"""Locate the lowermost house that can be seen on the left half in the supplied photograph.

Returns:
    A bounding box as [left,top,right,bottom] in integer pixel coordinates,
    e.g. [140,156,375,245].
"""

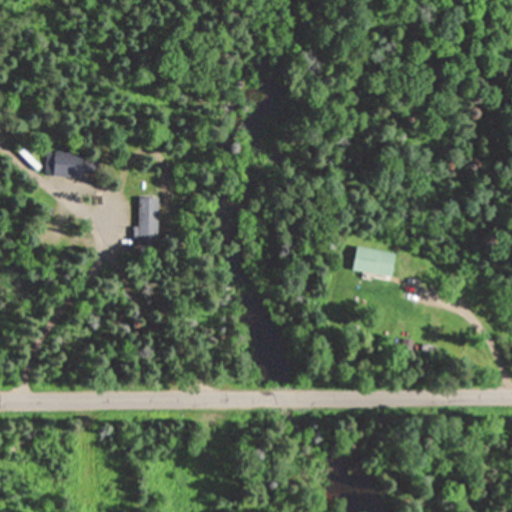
[134,196,160,236]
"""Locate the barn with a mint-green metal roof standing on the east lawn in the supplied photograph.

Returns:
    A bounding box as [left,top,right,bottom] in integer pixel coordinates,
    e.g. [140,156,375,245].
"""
[354,246,396,276]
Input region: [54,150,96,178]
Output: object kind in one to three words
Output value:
house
